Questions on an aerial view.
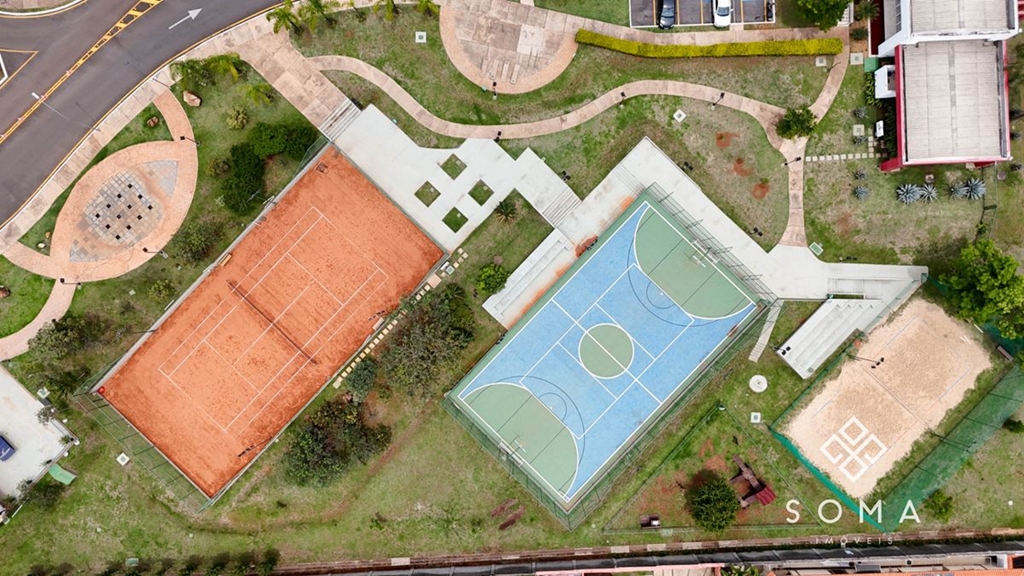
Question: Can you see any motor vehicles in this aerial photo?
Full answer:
Yes, the picture does show a motor vehicle.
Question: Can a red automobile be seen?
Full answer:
No, the scene contains no red automobile.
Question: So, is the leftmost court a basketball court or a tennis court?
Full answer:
I'd say the leftmost court is a tennis court.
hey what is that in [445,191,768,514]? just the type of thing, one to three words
sports court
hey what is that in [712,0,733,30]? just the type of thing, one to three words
car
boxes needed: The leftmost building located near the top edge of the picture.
[881,0,1019,172]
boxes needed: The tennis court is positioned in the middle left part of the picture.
[92,141,450,503]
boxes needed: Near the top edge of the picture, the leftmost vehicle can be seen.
[658,0,679,30]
